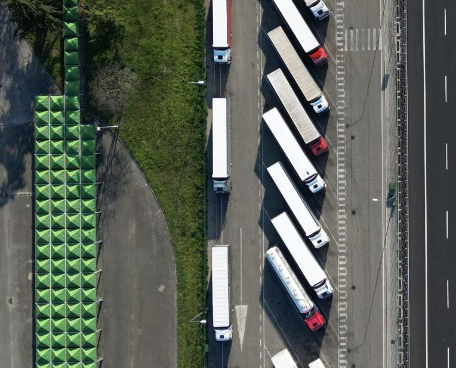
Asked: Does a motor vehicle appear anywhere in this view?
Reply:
Yes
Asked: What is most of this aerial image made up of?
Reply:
paved ground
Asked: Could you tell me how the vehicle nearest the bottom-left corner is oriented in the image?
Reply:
from top to bottom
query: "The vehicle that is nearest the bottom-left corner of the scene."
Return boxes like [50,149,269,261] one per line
[212,245,232,343]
